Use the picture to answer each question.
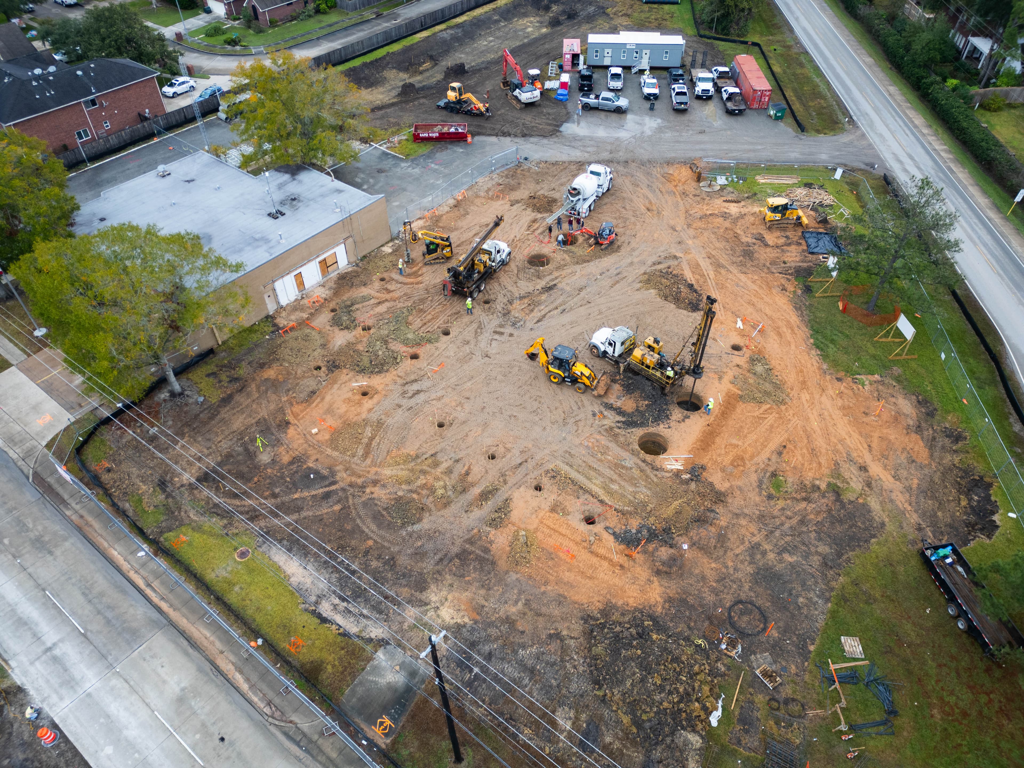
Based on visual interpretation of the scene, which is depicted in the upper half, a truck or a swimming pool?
truck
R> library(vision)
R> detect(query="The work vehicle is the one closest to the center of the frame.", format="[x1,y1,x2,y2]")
[522,330,620,403]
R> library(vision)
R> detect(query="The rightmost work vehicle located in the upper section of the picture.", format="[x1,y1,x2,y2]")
[759,190,813,230]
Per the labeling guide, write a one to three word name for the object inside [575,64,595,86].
vehicle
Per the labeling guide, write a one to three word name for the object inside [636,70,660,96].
truck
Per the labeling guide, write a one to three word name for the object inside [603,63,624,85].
truck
